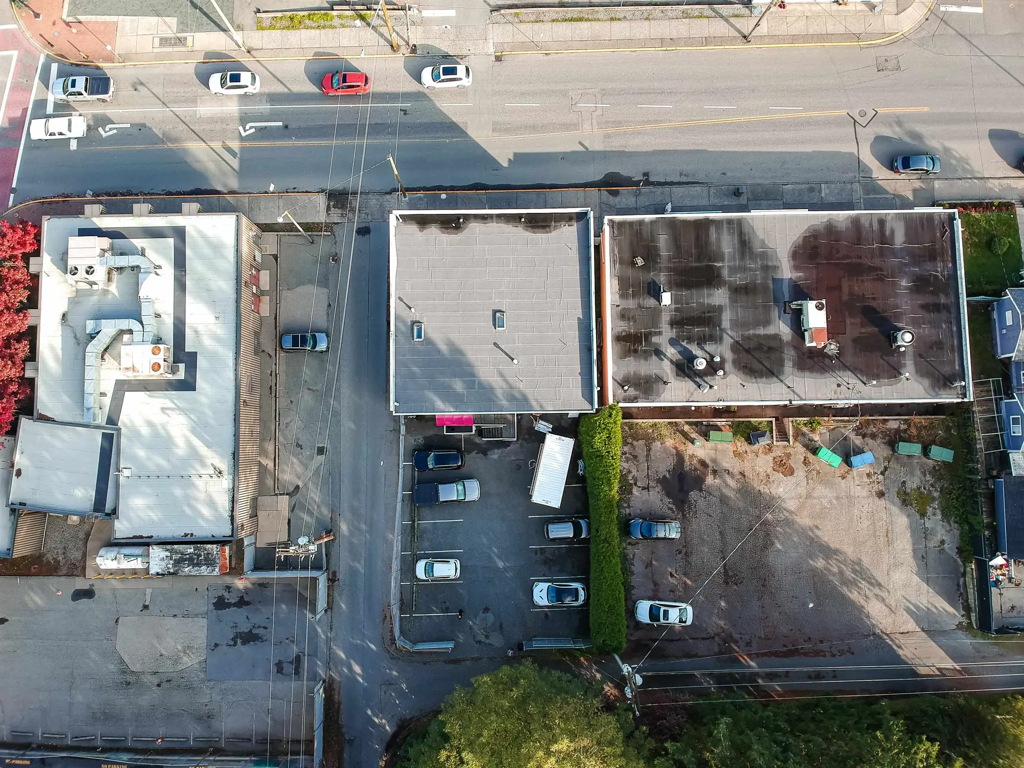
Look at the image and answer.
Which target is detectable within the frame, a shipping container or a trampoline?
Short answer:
shipping container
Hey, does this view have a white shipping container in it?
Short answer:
Yes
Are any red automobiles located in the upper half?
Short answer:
Yes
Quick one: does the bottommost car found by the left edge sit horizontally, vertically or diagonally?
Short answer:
horizontally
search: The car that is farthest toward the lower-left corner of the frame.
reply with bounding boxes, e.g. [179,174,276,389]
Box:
[416,557,460,583]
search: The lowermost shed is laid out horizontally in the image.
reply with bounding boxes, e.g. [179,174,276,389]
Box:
[149,542,236,575]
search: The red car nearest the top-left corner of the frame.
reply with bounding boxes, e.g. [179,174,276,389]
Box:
[321,69,372,98]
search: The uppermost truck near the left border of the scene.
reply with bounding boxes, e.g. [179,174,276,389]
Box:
[51,73,117,102]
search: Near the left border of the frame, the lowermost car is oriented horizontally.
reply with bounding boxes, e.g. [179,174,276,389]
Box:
[30,116,89,142]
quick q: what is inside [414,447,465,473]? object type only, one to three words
car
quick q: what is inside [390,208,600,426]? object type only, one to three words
building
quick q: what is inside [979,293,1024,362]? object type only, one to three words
house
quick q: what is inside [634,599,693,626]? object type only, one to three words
car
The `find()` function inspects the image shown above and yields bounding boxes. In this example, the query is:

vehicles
[280,329,330,354]
[545,516,586,543]
[414,447,465,473]
[421,61,473,90]
[628,516,681,542]
[414,478,481,506]
[532,581,586,607]
[51,73,117,102]
[891,150,941,177]
[634,599,693,626]
[209,69,261,97]
[30,116,89,142]
[321,69,372,98]
[416,557,460,583]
